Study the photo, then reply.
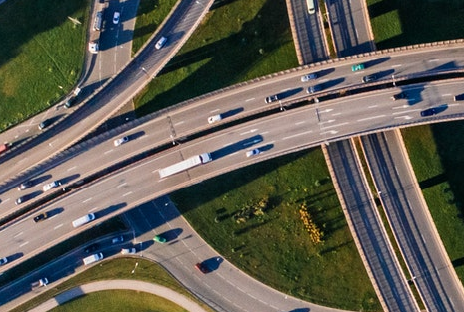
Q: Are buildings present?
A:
No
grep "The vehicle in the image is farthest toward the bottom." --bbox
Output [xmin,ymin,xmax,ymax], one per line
[28,275,52,291]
